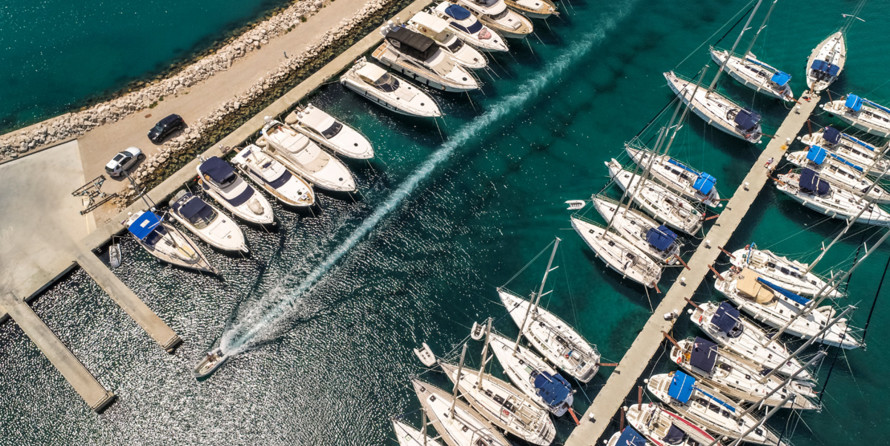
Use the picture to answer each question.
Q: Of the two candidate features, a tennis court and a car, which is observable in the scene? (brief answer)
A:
car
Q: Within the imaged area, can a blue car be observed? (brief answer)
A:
No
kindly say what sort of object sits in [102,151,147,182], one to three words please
car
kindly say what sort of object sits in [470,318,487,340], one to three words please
boat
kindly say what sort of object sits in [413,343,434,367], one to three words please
boat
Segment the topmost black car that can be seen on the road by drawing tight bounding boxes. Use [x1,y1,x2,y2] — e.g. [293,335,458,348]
[148,114,189,143]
